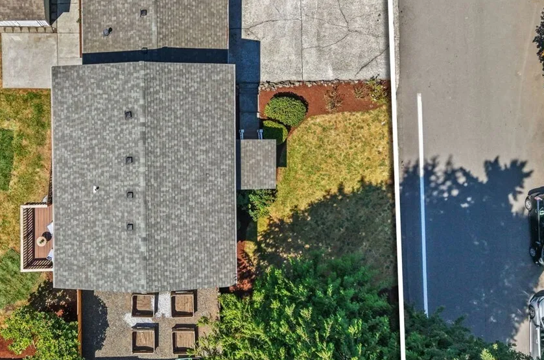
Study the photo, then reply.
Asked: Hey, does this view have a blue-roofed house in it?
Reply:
No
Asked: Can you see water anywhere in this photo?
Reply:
No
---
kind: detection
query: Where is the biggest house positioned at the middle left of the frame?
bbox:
[48,61,237,297]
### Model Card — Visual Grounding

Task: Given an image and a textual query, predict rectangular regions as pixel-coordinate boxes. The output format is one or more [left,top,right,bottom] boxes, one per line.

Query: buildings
[0,0,50,26]
[48,61,237,297]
